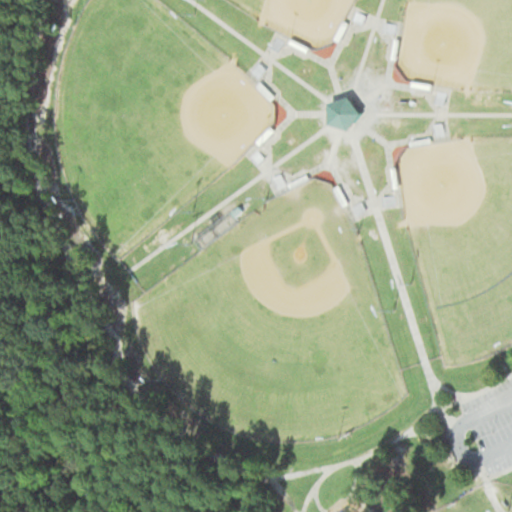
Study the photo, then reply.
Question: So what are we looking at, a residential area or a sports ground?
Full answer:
This image shows a sports ground.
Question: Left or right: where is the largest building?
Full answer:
It is on the right.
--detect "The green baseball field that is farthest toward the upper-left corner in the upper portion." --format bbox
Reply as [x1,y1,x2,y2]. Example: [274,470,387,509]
[55,0,276,263]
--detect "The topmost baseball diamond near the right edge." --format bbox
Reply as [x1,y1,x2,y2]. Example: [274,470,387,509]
[397,0,512,90]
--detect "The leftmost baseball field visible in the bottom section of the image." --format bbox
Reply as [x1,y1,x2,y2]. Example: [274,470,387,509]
[134,179,407,443]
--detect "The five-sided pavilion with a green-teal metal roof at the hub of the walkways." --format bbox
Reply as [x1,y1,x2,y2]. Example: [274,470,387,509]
[327,96,364,132]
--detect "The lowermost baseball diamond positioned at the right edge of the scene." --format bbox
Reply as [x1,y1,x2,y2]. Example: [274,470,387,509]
[398,137,512,368]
